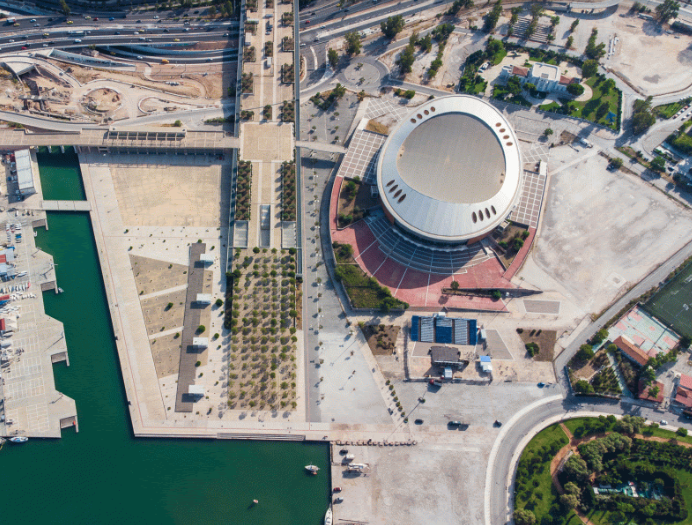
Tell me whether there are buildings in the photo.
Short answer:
Yes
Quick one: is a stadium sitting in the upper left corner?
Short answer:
No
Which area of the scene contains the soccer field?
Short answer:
right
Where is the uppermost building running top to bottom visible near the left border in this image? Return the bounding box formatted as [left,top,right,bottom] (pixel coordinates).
[15,149,39,195]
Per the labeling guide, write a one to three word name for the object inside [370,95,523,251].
stadium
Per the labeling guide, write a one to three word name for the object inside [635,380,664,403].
house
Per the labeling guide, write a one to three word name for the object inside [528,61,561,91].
house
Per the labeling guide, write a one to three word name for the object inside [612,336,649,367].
building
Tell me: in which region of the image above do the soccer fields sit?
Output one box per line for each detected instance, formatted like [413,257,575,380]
[644,261,692,341]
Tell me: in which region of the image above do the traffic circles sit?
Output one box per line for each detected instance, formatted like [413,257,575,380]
[343,61,380,84]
